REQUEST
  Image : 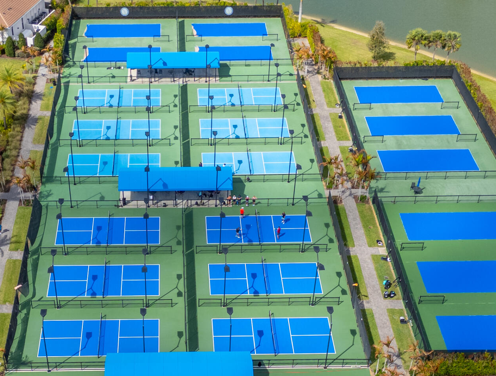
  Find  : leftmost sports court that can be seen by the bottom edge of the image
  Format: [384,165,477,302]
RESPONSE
[36,315,160,359]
